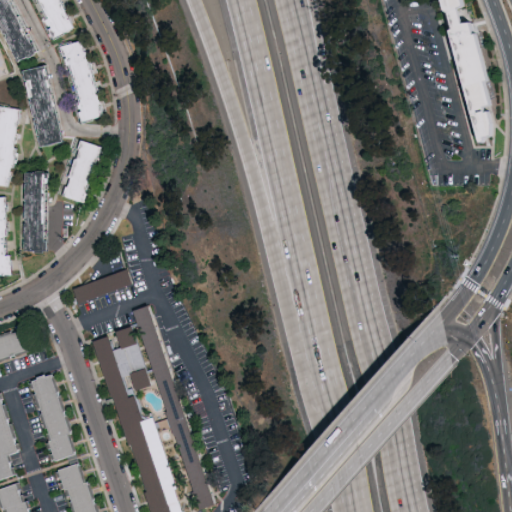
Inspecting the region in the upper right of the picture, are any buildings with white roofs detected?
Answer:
Yes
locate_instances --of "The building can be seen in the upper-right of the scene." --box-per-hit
[437,0,498,144]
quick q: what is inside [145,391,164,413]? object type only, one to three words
swimming pool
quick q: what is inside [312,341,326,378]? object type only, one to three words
vehicle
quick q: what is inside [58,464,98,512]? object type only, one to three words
building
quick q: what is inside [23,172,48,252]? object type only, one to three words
building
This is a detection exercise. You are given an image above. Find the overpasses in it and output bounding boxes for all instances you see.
[253,307,458,512]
